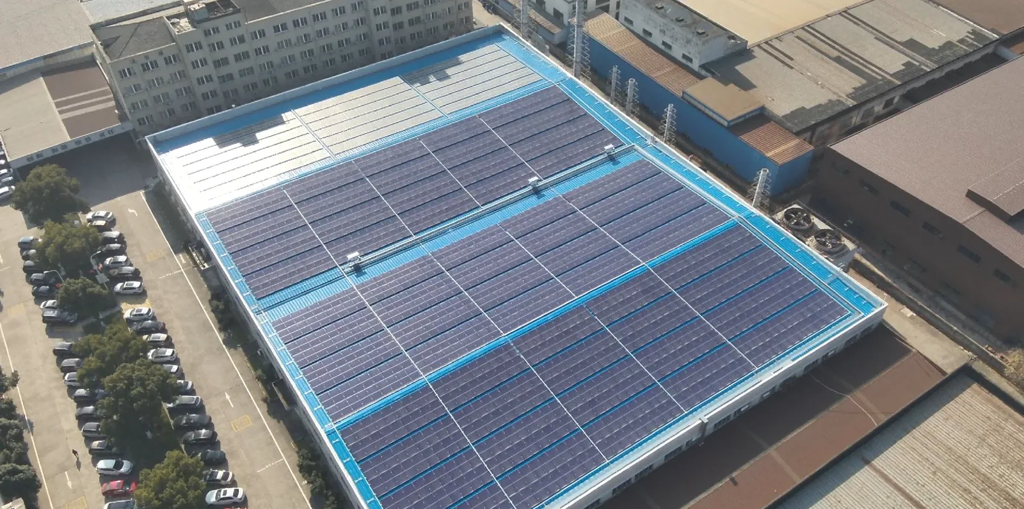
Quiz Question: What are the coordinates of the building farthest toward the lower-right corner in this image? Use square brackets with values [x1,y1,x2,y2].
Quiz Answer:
[789,377,1024,509]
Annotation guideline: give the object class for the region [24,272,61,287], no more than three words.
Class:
car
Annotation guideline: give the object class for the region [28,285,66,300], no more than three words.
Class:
car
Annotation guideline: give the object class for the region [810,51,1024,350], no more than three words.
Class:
building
